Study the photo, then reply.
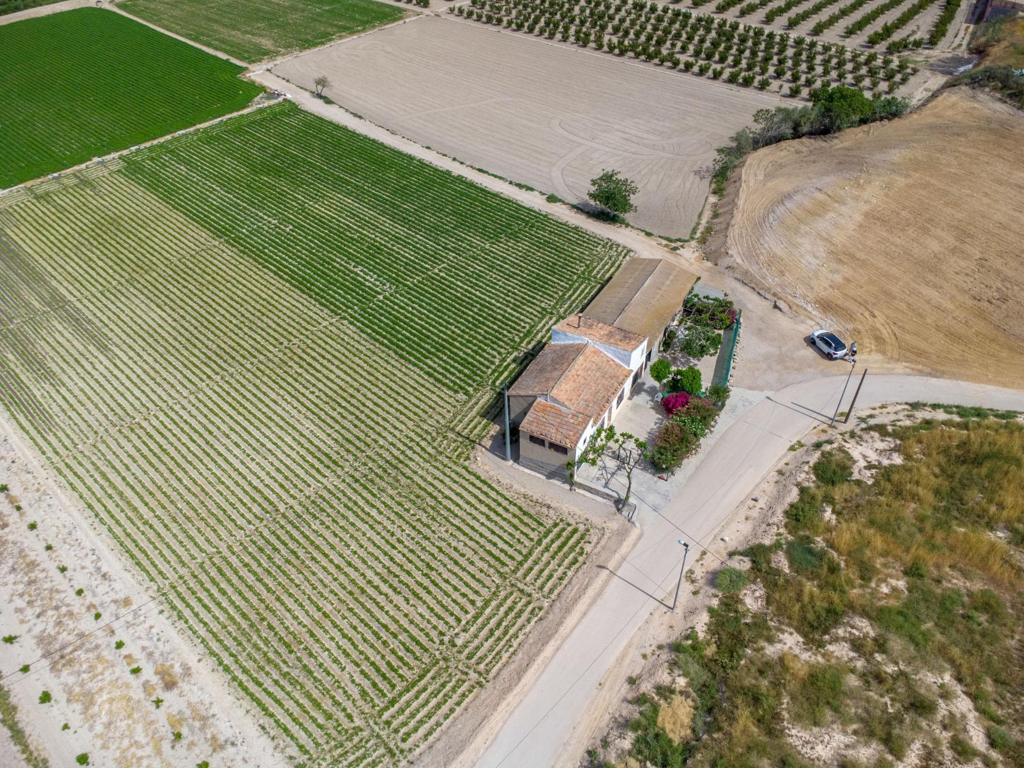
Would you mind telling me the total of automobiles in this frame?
1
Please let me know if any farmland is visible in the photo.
Yes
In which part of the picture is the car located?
right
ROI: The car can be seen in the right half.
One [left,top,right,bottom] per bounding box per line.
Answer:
[810,331,851,361]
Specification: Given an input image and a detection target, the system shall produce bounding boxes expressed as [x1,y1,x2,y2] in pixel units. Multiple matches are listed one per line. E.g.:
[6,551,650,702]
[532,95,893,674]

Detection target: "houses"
[503,312,651,489]
[981,0,1024,22]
